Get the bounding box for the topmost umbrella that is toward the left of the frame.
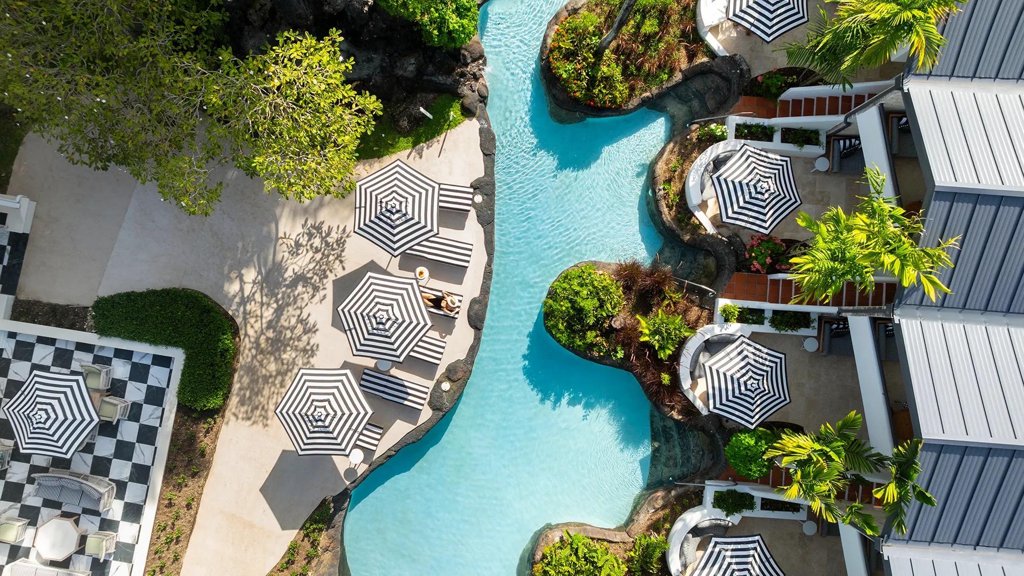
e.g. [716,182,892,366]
[351,162,437,260]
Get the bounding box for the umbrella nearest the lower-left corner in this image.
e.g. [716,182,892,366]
[2,366,105,458]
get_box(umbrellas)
[705,144,799,235]
[273,365,372,453]
[704,334,792,430]
[690,530,788,576]
[336,271,431,363]
[728,0,809,42]
[2,366,105,458]
[351,162,437,260]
